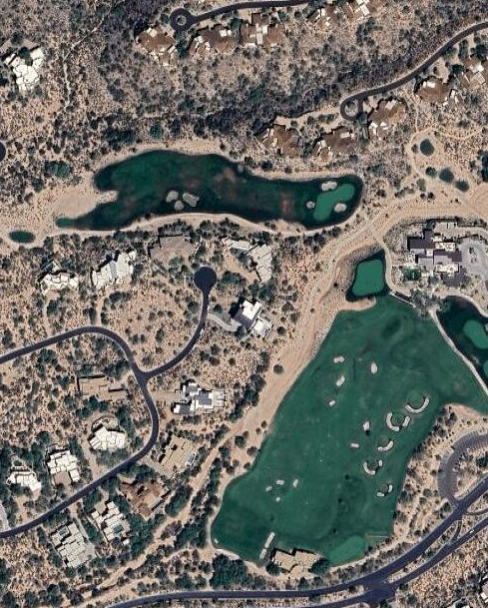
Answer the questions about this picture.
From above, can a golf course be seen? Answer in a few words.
Yes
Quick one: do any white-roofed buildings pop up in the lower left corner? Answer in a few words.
Yes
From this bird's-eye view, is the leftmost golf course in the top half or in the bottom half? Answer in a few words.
top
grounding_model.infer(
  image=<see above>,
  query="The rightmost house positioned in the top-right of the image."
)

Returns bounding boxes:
[456,54,488,88]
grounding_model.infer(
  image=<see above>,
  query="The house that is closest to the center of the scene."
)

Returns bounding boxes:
[231,299,274,340]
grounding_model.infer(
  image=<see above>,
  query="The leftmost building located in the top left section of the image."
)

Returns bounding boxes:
[3,39,42,86]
